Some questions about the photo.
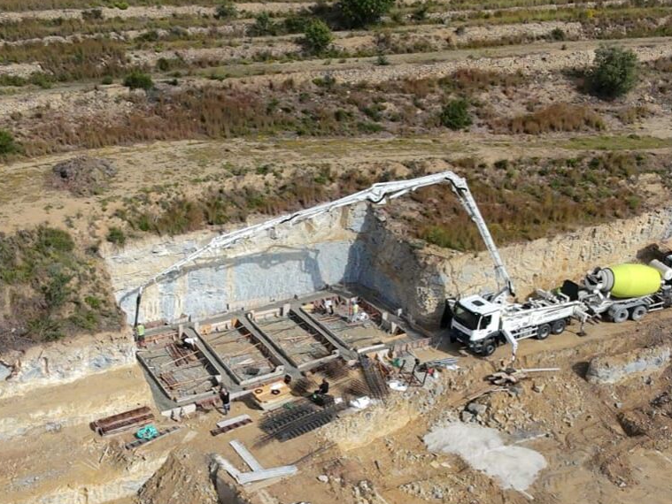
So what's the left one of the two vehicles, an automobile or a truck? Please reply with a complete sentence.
The left one of the two vehicles is a truck.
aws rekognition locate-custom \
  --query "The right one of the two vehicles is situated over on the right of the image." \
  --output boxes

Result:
[577,251,672,321]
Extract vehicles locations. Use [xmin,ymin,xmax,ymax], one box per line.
[577,251,672,321]
[135,169,594,365]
